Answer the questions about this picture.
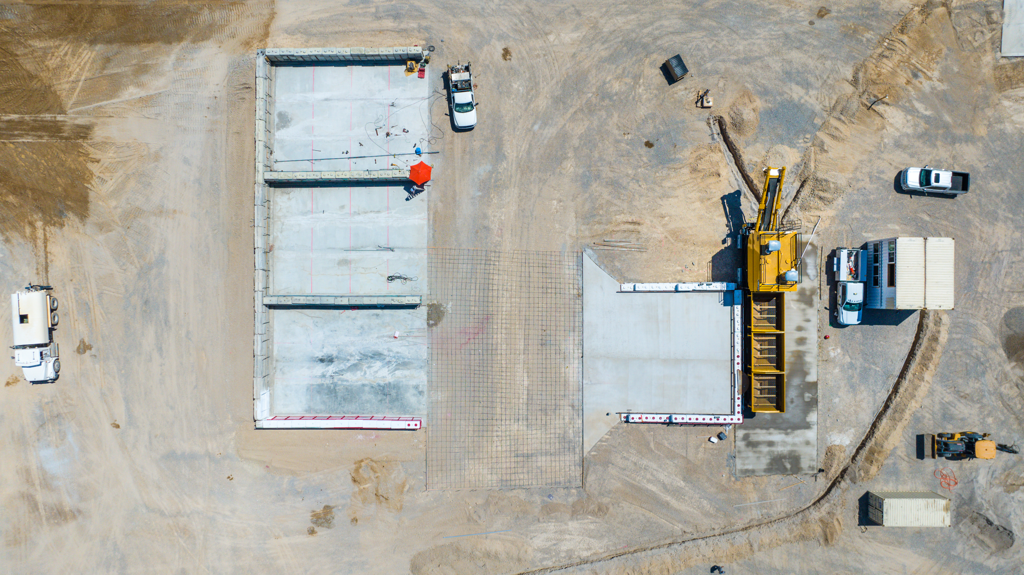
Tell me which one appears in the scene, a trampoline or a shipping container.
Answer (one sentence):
Of the two, only a shipping container appears.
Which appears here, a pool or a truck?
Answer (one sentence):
I can see a truck in this picture.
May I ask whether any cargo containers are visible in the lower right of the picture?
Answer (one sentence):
Yes, a cargo container is visible in the lower right of the picture.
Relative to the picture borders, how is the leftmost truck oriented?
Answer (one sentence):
From this overhead view, the leftmost truck appears to run up and down.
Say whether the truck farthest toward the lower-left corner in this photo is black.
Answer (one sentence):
No, the truck farthest toward the lower-left corner is white.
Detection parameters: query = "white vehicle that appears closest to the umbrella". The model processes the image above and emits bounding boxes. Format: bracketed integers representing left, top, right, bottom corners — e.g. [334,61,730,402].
[448,56,479,130]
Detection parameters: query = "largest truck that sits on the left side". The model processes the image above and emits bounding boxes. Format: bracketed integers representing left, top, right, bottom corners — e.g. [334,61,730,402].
[11,281,62,384]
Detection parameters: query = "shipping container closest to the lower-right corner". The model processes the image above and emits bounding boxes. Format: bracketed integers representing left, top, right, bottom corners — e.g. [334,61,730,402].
[868,490,951,527]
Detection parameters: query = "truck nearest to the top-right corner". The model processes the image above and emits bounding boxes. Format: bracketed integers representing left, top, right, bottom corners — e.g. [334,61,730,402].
[897,162,972,194]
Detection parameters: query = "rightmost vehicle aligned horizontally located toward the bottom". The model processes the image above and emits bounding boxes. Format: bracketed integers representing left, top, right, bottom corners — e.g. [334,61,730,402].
[927,431,1015,460]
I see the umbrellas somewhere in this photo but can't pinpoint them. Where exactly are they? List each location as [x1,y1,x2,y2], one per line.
[409,161,432,185]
